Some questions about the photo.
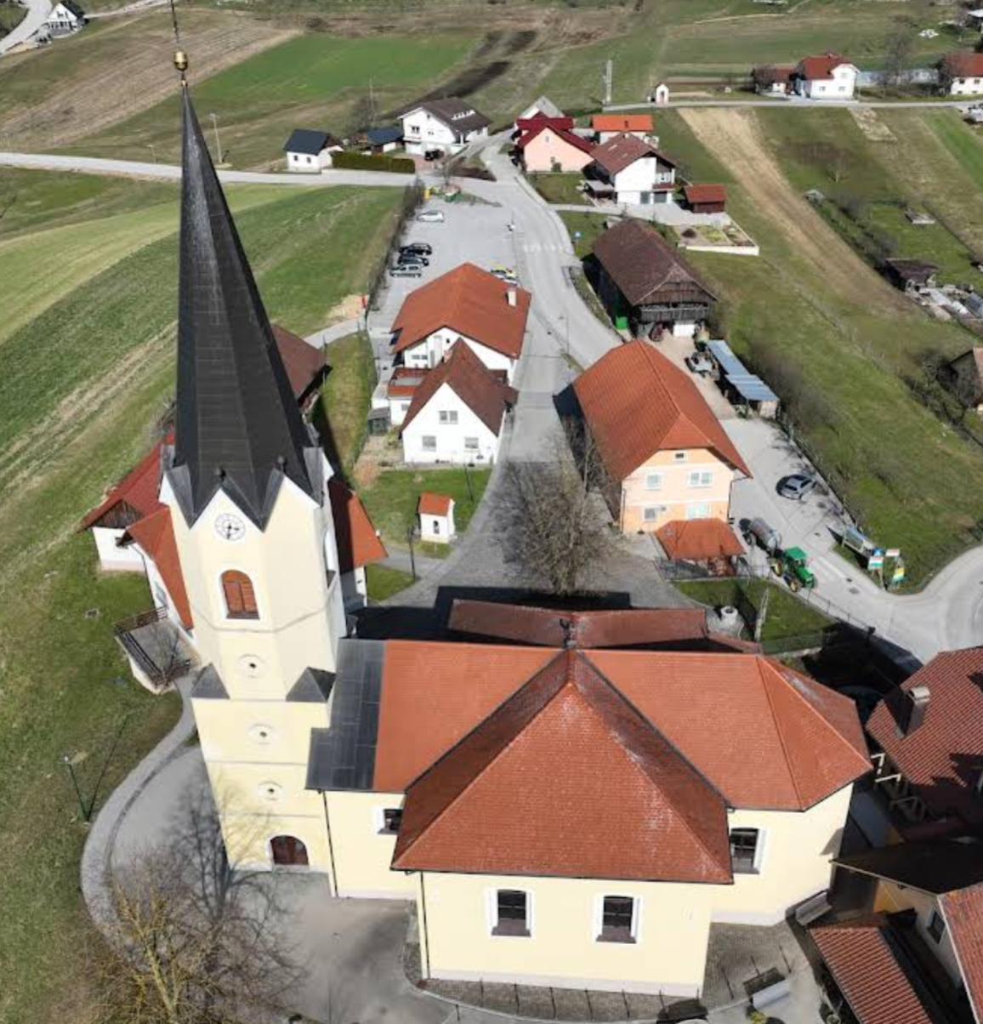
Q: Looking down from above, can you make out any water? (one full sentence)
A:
No, water can't be seen anywhere here.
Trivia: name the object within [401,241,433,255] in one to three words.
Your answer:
car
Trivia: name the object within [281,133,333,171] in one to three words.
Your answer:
house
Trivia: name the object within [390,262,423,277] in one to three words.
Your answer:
car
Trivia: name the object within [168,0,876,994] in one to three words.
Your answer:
church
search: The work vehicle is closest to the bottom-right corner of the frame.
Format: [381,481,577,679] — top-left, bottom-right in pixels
[773,542,819,595]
